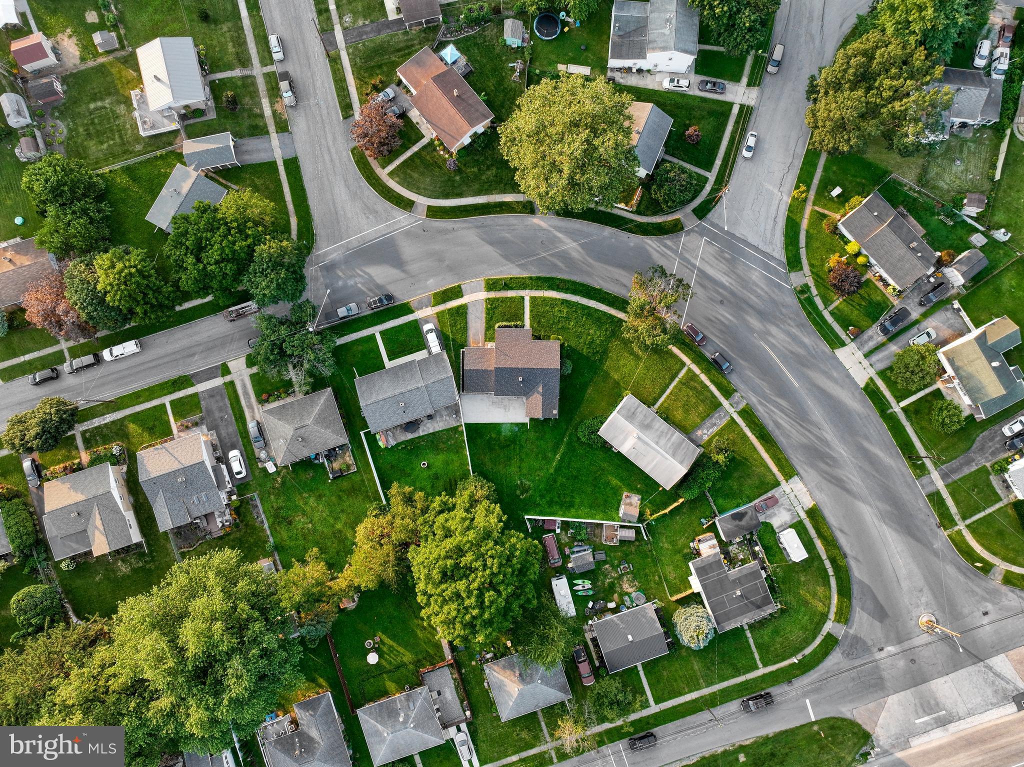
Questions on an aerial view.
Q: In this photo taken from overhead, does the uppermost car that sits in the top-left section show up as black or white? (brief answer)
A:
white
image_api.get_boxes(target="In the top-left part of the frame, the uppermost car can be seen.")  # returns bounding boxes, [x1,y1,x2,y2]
[267,31,287,65]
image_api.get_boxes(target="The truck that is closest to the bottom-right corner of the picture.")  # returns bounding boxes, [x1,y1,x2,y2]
[739,690,776,711]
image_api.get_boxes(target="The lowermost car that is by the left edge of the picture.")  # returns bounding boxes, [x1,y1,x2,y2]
[23,456,43,488]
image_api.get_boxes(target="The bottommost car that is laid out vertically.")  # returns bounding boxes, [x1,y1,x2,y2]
[456,729,472,761]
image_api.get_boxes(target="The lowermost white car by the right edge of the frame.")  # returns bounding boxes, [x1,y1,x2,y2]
[998,415,1024,438]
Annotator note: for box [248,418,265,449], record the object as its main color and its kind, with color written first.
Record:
gray car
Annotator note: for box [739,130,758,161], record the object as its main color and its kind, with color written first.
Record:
white car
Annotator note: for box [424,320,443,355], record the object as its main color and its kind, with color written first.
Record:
white vehicle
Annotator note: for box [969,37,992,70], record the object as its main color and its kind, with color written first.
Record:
white car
